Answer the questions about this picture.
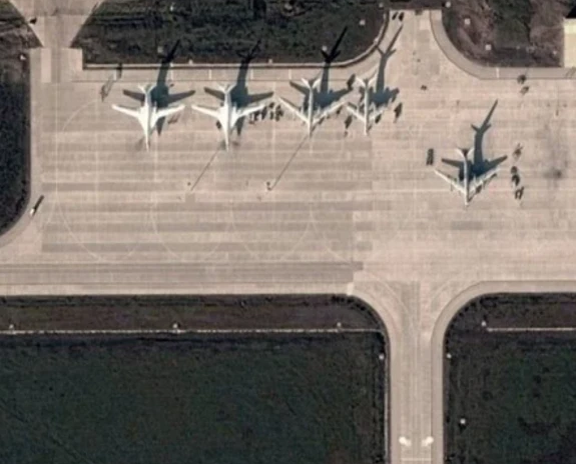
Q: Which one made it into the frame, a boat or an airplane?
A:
airplane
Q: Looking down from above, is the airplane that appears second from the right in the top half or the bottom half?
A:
top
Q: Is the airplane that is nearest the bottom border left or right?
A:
right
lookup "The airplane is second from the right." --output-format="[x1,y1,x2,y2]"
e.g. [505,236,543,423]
[346,74,387,134]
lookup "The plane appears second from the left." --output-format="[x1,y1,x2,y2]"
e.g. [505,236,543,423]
[191,83,264,150]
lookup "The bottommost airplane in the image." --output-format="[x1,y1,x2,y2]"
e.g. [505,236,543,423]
[434,149,498,206]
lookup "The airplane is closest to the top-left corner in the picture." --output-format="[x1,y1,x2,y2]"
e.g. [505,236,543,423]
[112,84,184,152]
